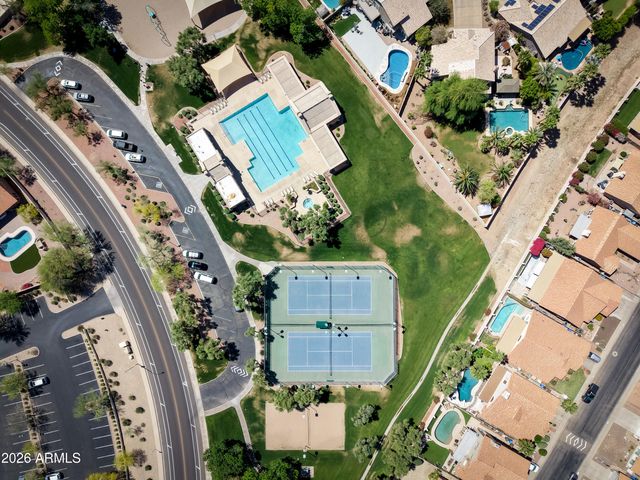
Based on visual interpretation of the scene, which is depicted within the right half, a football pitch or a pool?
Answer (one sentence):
The one visible within the right half is a pool.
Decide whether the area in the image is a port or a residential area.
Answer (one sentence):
This looks like a residential area.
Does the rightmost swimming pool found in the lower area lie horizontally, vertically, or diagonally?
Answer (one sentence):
The rightmost swimming pool found in the lower area has been laid out diagonally relative to the frame.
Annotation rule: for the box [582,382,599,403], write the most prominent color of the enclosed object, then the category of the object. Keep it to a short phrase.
black vehicle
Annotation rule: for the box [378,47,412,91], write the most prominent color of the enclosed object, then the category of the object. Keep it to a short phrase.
blue swimming pool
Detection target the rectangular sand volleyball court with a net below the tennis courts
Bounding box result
[265,402,346,452]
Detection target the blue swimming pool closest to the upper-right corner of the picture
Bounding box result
[560,38,596,72]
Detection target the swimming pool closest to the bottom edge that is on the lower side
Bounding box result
[434,410,460,445]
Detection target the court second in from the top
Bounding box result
[267,325,394,384]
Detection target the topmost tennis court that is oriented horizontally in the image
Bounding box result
[267,266,394,325]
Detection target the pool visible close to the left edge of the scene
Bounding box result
[0,228,34,259]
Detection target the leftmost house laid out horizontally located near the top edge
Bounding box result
[356,0,431,34]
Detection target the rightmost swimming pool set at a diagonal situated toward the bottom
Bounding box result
[489,298,518,334]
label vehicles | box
[582,382,599,403]
[30,378,49,388]
[189,261,207,269]
[108,130,126,139]
[127,152,144,161]
[46,472,64,480]
[587,351,601,362]
[184,250,202,258]
[196,273,214,283]
[569,472,580,480]
[74,93,92,102]
[528,462,541,473]
[115,141,136,151]
[61,80,79,89]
